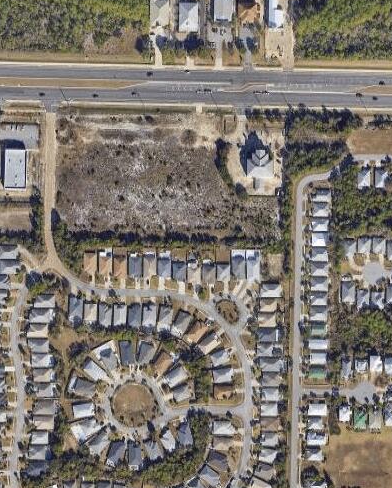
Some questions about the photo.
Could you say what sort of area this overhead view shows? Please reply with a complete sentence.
The area seen from above is a residential area.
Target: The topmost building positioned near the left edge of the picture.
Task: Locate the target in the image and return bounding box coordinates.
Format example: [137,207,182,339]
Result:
[5,149,25,188]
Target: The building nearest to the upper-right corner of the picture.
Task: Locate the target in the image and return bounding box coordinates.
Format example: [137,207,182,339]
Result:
[268,0,283,27]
